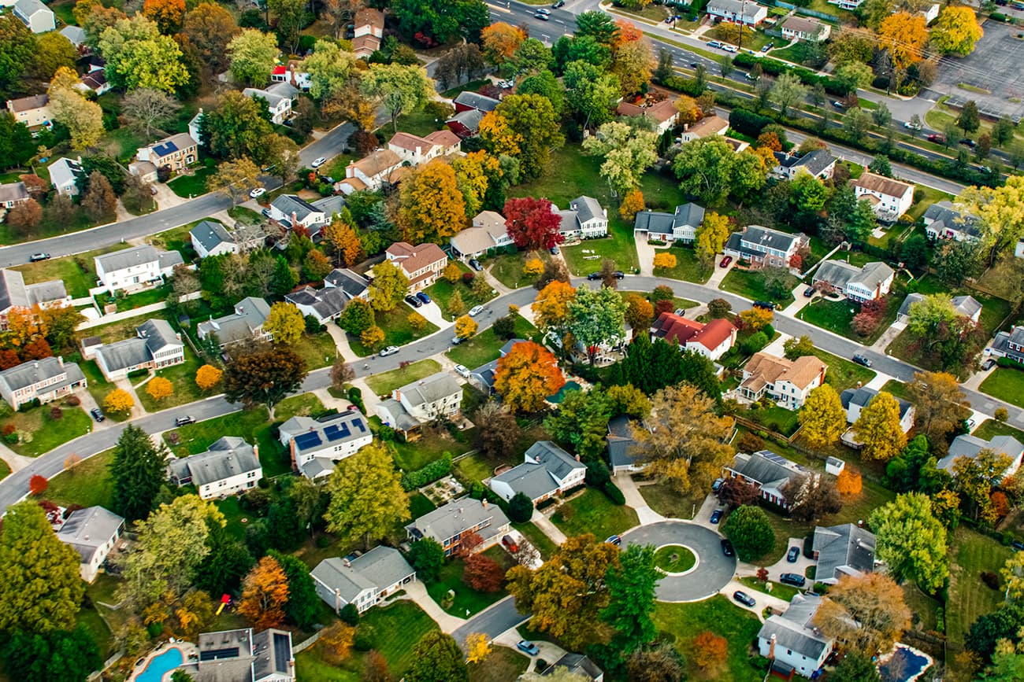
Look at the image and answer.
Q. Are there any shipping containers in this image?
No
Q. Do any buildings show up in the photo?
Yes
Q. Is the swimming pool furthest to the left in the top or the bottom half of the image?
bottom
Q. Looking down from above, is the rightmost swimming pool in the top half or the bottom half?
bottom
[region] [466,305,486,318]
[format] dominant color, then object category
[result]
white vehicle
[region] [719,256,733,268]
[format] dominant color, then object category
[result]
red vehicle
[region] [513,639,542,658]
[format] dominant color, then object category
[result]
blue car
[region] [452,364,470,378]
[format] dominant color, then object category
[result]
white car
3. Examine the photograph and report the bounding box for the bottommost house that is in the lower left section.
[198,629,300,682]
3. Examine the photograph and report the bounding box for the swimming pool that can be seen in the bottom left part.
[125,642,199,682]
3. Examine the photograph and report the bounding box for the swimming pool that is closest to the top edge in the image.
[540,375,591,409]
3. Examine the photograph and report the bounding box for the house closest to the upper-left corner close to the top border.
[8,0,58,34]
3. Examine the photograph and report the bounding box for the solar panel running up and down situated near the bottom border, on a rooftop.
[274,634,289,673]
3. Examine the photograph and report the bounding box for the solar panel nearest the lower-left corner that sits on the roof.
[201,648,239,661]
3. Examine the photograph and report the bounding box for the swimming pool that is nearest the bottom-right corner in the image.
[873,642,933,682]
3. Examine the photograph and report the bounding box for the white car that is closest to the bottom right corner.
[963,416,980,431]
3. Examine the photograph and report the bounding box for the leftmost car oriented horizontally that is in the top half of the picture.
[30,251,51,263]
